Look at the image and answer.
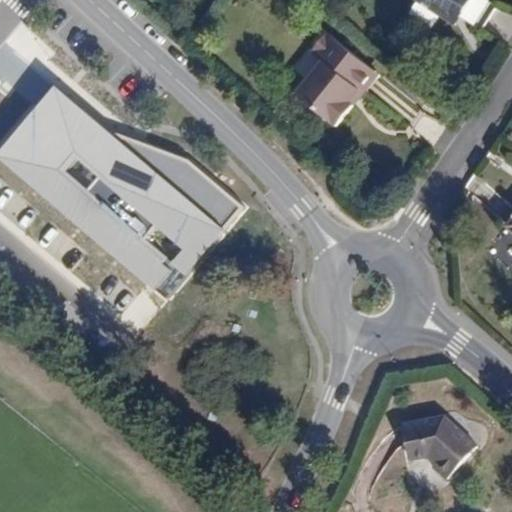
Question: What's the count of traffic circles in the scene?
1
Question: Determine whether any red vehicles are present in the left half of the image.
Yes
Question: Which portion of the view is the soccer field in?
bottom left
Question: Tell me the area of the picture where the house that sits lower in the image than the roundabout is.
bottom right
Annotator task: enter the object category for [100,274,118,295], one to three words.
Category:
car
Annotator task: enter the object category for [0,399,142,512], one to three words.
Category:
soccer field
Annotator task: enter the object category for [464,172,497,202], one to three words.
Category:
building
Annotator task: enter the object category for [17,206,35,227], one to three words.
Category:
car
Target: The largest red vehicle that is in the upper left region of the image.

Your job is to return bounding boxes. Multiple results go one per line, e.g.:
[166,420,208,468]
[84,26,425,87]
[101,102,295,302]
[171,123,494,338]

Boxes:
[120,77,138,98]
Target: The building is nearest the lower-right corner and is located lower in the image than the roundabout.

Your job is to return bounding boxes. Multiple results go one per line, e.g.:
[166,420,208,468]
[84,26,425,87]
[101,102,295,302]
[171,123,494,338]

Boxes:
[400,414,478,480]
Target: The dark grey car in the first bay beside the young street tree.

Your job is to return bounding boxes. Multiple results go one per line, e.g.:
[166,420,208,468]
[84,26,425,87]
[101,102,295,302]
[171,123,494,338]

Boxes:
[50,9,66,30]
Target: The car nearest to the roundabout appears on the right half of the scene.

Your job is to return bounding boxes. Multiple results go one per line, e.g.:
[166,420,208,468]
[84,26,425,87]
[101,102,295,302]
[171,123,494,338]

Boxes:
[335,380,350,404]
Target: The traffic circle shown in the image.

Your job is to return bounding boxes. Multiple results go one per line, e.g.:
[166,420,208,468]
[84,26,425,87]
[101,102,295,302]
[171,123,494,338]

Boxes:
[312,230,436,356]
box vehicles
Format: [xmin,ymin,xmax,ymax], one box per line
[50,9,66,30]
[17,206,35,227]
[100,274,118,295]
[38,226,56,246]
[62,246,81,268]
[114,287,132,308]
[335,380,350,404]
[116,0,136,17]
[168,45,188,66]
[66,28,86,50]
[120,77,138,98]
[0,188,14,208]
[145,25,165,44]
